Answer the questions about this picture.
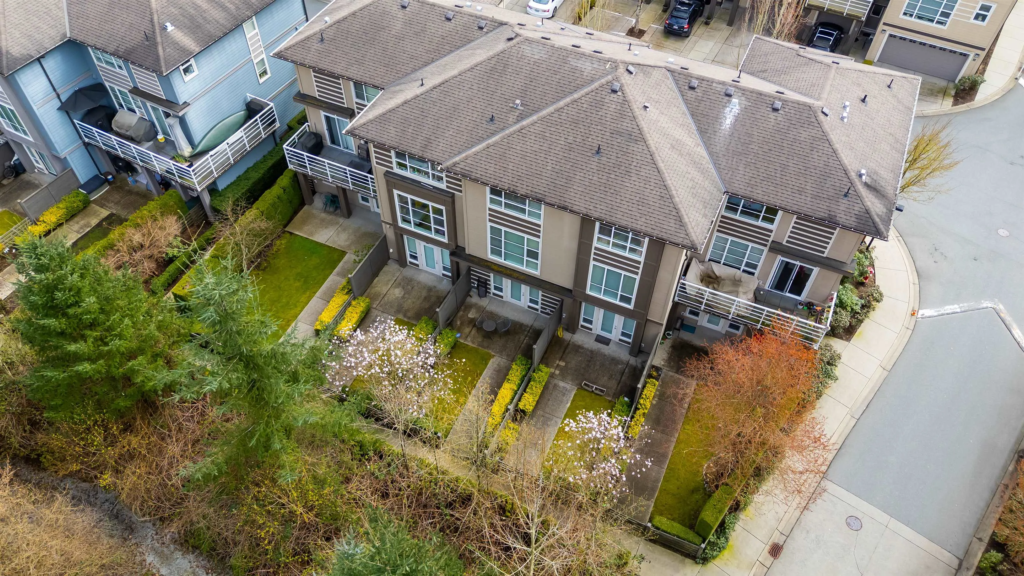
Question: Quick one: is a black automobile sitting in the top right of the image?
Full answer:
Yes, the scene does show a black automobile in the top right of the image.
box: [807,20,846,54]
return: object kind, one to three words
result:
car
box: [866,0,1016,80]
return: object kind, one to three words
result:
house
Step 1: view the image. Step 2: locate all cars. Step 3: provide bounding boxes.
[664,0,704,36]
[528,0,564,17]
[807,20,846,54]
